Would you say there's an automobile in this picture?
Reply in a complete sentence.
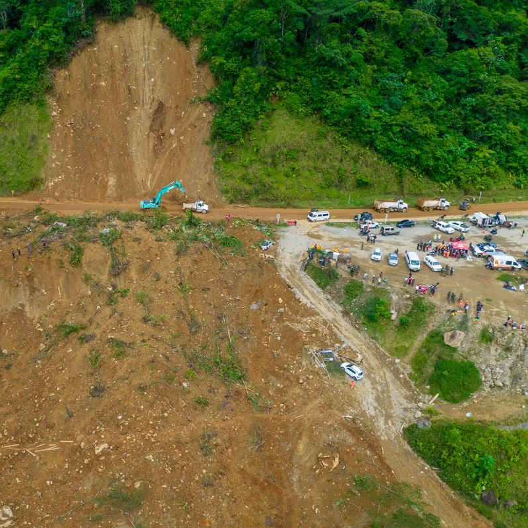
Yes, the frame does contain an automobile.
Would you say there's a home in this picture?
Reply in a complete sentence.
No, this view has no home in it.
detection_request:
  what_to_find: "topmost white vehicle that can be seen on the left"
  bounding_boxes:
[181,198,210,213]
